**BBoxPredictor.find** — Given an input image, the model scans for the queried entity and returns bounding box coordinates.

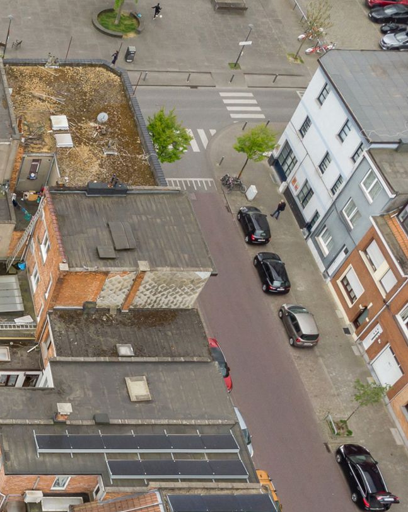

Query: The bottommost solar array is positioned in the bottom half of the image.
[164,491,275,512]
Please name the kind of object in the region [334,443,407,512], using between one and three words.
car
